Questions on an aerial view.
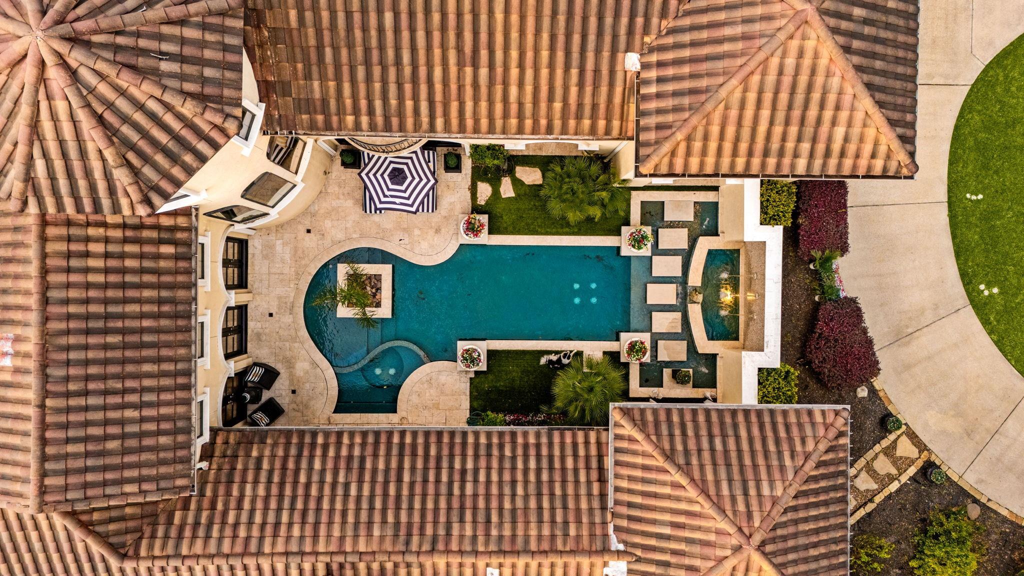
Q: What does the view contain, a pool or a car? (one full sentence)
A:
The image shows a pool.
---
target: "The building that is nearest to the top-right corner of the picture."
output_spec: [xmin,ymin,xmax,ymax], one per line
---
[615,0,924,189]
